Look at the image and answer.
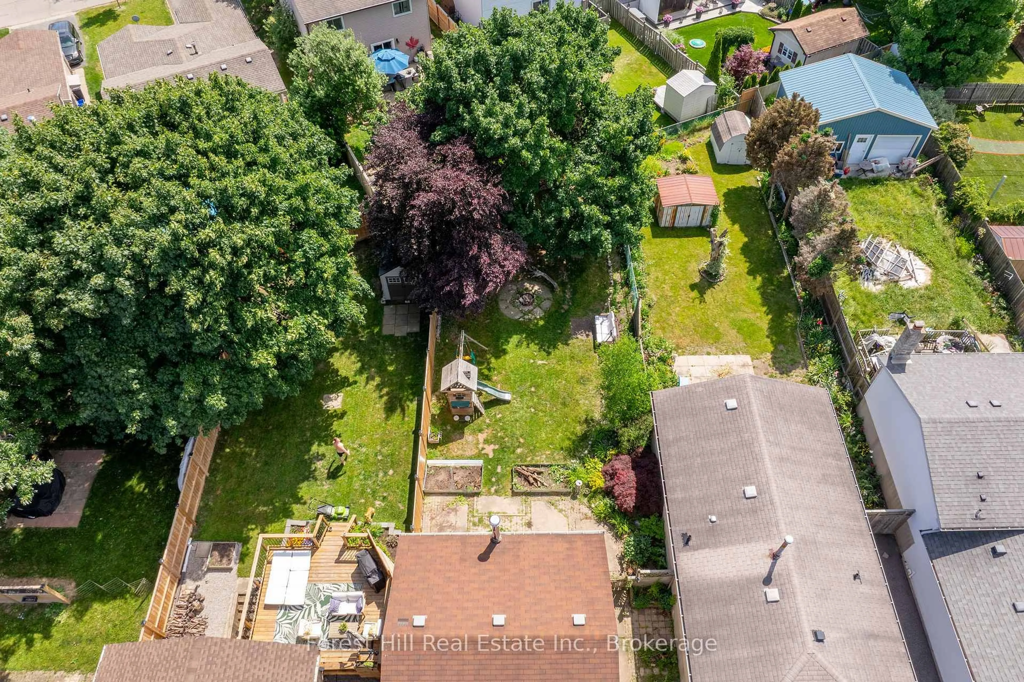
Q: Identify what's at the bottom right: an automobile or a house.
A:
house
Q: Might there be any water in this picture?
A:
No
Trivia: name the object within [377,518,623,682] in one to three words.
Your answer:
house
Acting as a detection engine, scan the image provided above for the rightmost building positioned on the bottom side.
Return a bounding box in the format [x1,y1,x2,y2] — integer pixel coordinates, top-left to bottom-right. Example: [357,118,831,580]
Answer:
[858,314,1024,682]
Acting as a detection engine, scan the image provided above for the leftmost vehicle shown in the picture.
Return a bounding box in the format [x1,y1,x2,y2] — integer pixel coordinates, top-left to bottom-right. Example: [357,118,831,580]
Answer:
[42,16,84,58]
